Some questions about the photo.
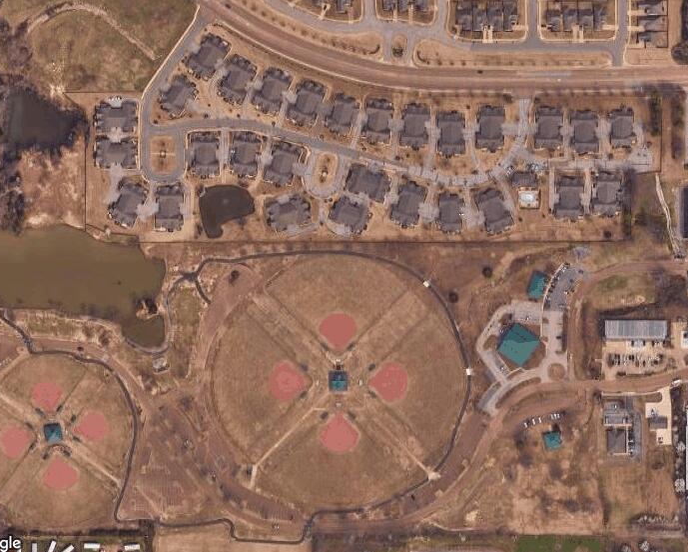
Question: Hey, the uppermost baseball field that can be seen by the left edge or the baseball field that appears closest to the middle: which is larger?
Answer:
the baseball field that appears closest to the middle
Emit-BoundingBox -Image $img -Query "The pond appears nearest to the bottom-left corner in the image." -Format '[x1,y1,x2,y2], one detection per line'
[0,226,165,348]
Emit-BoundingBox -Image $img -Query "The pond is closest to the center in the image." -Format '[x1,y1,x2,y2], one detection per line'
[200,185,254,236]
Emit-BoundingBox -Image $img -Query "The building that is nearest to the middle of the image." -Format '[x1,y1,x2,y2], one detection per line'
[330,194,369,236]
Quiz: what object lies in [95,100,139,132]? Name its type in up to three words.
building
